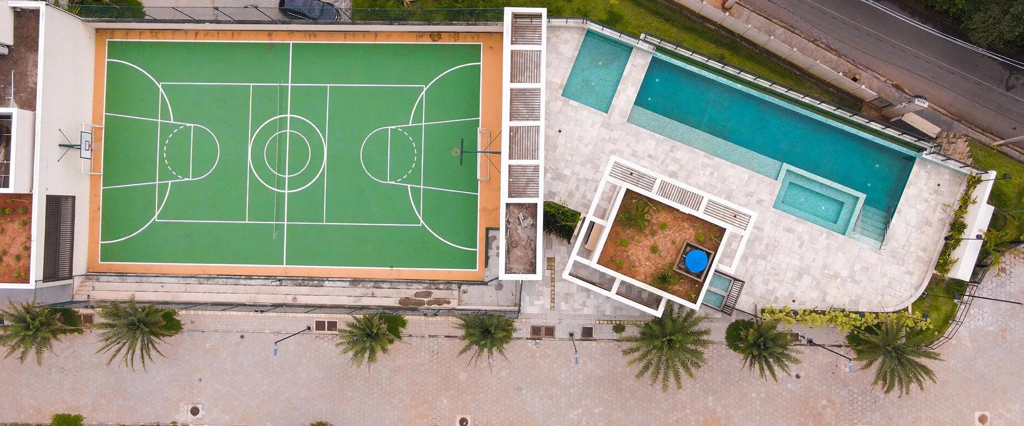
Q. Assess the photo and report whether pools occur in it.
Yes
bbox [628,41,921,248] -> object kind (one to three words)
swimming pool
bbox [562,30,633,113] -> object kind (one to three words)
swimming pool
